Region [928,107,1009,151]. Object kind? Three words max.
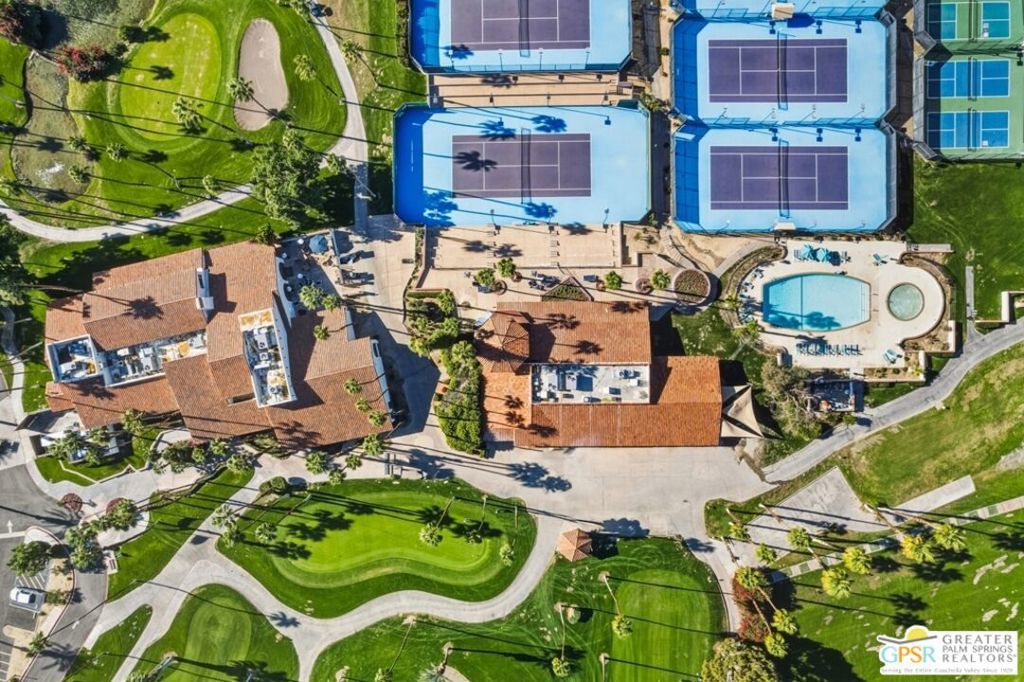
sports court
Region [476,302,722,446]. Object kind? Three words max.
building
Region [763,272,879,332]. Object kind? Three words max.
swimming pool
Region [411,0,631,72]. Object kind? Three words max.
tennis court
